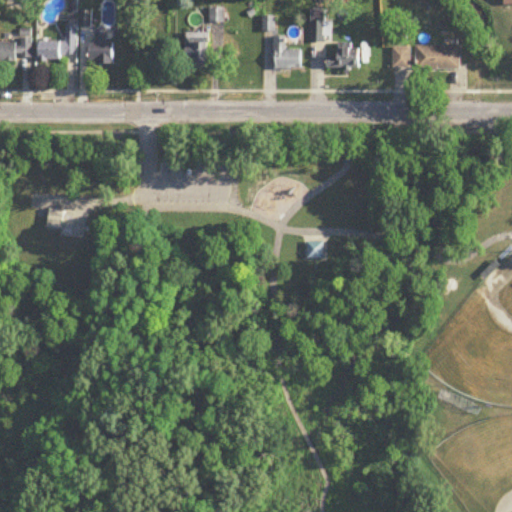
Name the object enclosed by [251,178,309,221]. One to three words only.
playground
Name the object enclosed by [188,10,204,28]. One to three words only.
swimming pool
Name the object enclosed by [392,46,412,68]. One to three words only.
building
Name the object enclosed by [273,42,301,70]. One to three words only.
house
